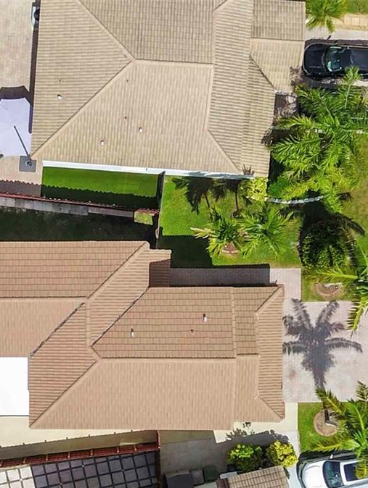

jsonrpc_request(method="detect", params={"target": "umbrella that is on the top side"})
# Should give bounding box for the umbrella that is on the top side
[0,99,36,179]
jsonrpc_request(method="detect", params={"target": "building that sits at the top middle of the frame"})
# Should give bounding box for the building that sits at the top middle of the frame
[31,0,303,181]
